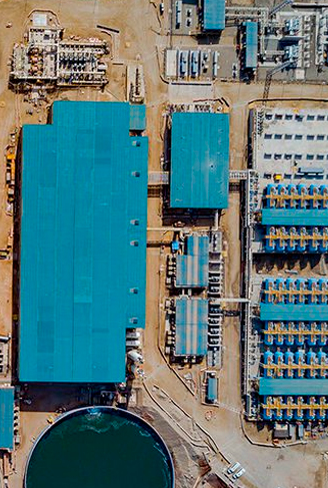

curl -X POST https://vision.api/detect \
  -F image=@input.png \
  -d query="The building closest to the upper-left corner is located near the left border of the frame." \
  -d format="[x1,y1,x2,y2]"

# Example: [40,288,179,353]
[10,9,108,91]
